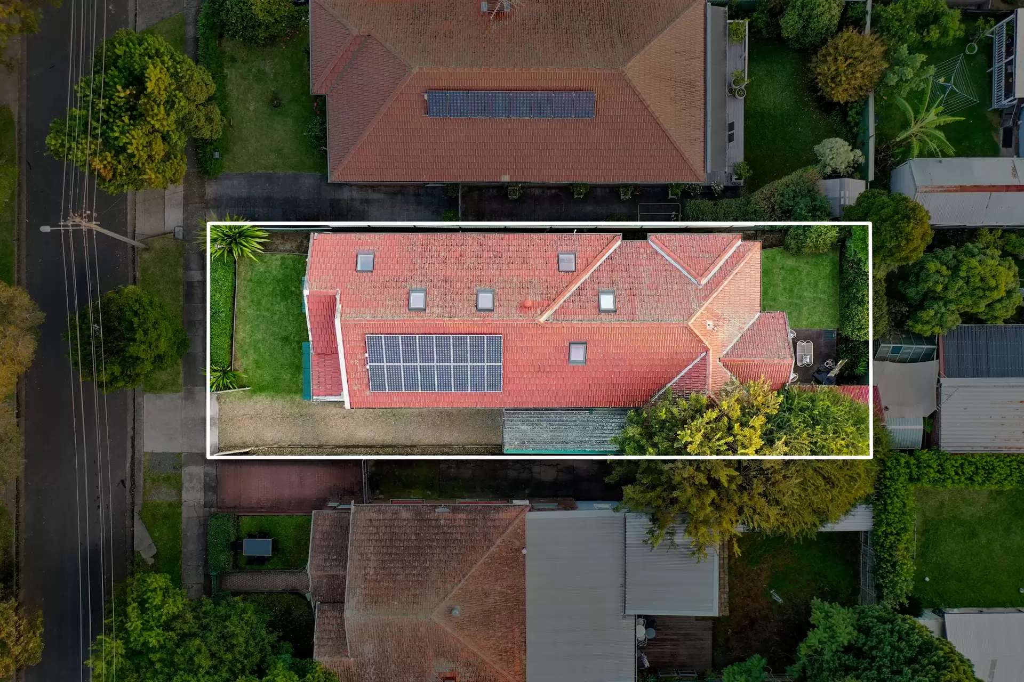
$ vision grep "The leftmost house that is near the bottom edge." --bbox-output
[305,493,718,682]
